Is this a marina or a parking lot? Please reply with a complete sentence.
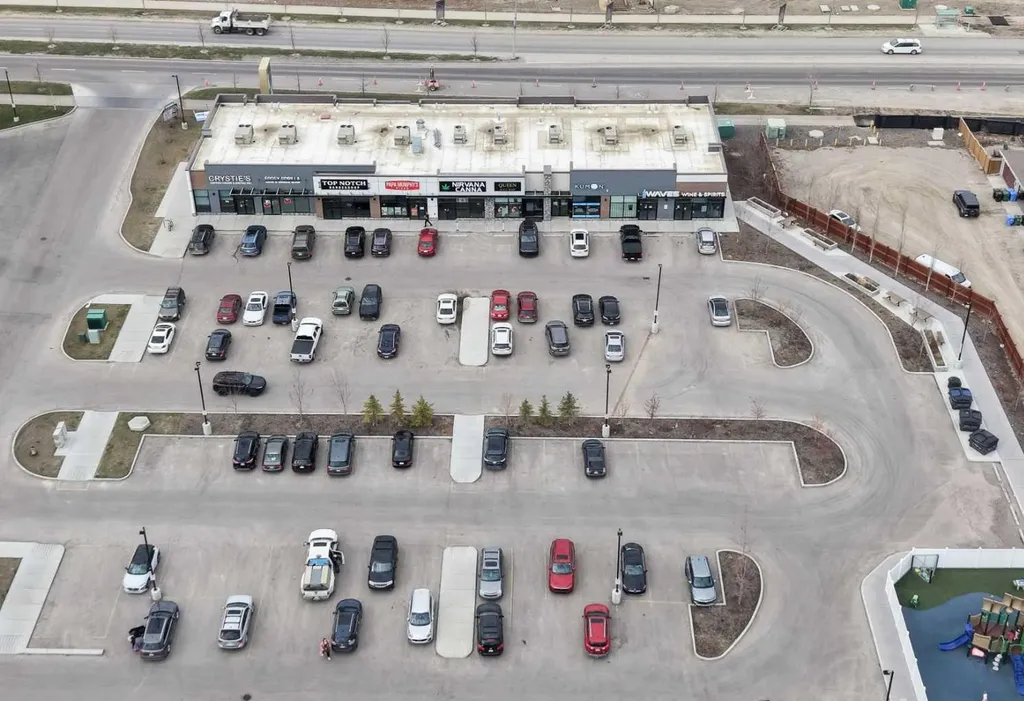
The picture captures a parking lot.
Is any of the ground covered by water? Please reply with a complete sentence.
No, the picture contains no water.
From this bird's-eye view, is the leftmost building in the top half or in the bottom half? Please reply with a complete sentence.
The top half of the photo is where the leftmost building is.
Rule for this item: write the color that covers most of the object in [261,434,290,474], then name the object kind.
gray car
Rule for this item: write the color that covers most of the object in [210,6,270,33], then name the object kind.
white truck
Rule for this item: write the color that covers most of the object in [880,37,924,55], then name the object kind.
white car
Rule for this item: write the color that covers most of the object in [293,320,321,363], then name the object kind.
white vehicle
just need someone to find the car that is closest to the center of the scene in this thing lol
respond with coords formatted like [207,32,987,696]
[490,324,514,357]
